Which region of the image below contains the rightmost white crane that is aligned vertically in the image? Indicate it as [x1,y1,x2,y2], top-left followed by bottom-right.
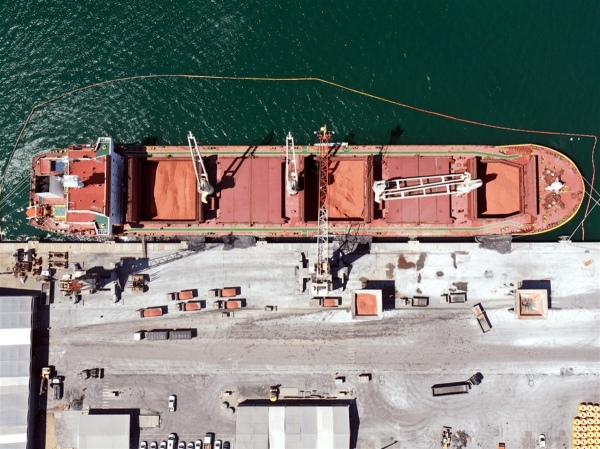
[301,121,347,298]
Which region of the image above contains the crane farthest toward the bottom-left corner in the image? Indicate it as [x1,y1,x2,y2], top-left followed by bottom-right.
[55,261,118,306]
